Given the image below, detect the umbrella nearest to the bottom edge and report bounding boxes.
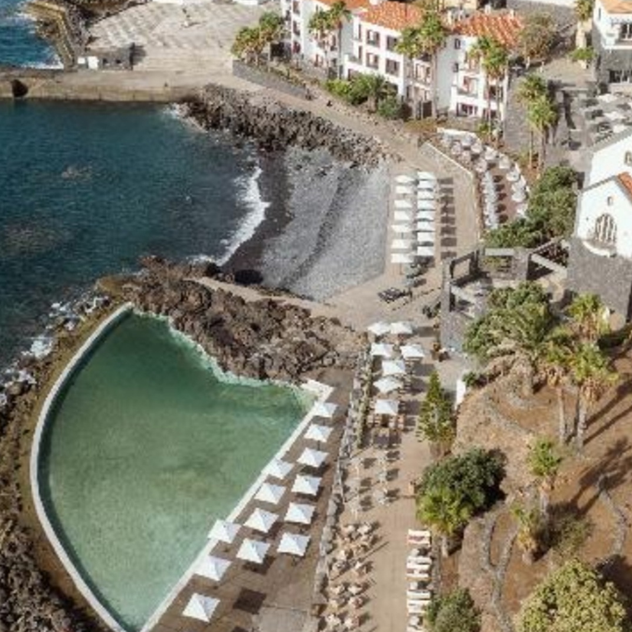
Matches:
[180,594,220,632]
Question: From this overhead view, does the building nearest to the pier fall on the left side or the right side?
left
